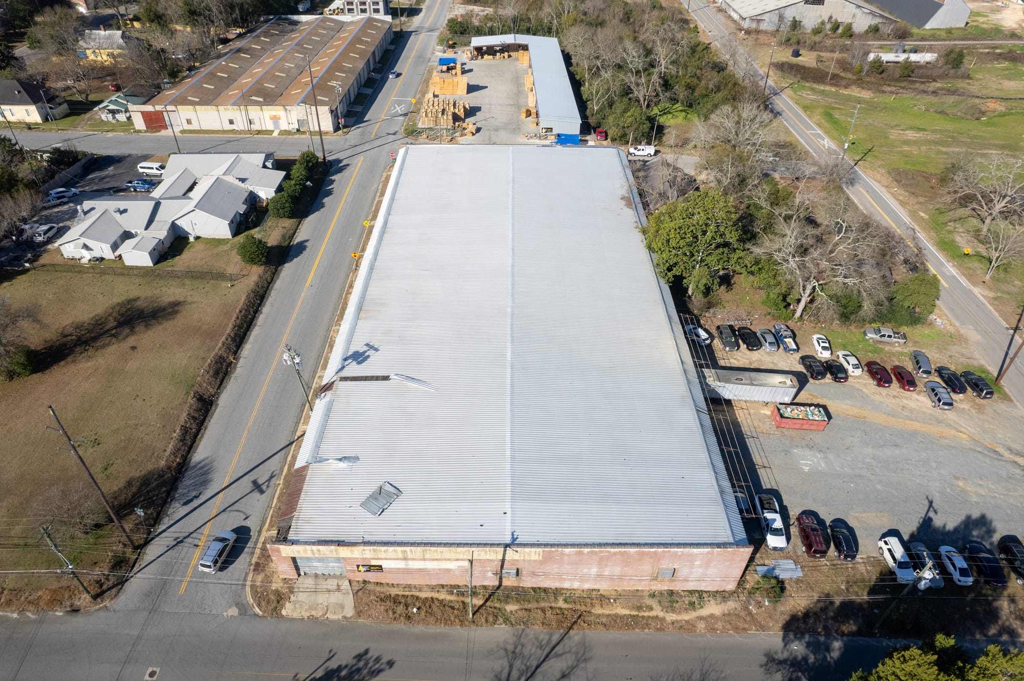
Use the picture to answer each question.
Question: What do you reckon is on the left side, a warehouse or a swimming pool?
warehouse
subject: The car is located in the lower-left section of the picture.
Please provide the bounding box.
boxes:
[198,531,236,575]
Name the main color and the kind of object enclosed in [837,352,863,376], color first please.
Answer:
white car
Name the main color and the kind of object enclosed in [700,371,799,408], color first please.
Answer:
white trailer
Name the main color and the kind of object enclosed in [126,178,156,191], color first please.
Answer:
blue vehicle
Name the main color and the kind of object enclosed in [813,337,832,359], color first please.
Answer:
white car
